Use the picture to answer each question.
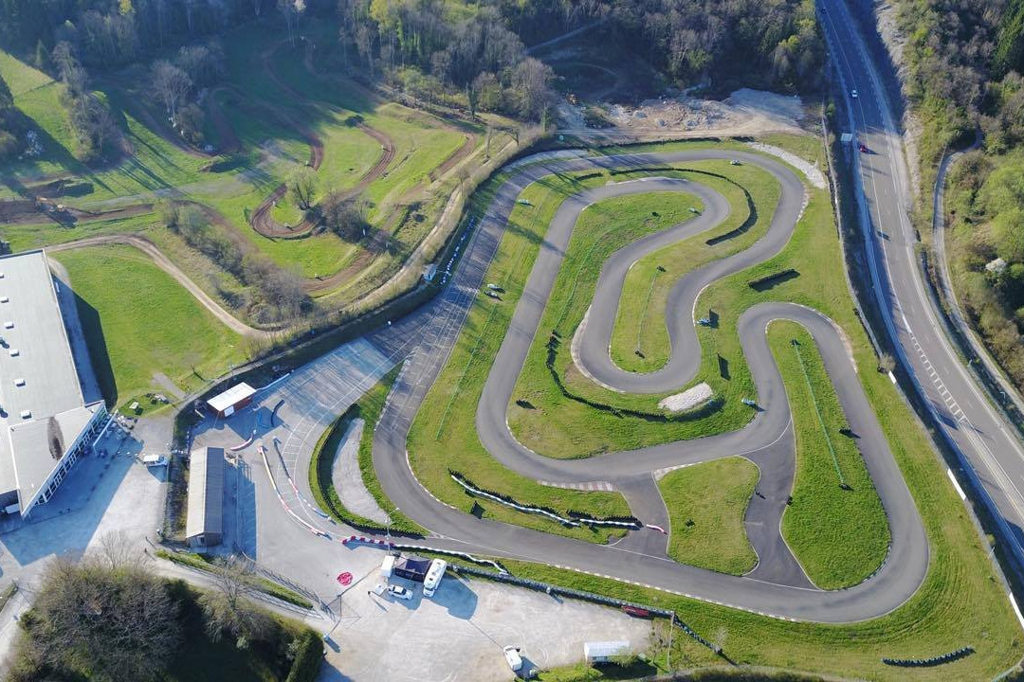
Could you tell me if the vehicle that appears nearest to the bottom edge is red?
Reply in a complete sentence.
No, from above the vehicle that appears nearest to the bottom edge looks white.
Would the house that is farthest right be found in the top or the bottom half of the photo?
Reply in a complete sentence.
The house that is farthest right sits in the bottom half of the picture.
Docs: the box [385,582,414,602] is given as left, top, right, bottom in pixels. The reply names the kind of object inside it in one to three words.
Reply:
car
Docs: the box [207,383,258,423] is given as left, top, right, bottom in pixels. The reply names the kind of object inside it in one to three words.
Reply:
shed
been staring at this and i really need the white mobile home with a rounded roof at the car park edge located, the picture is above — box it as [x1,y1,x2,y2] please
[578,642,633,664]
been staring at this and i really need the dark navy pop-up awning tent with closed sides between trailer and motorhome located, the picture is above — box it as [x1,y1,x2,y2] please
[396,556,430,583]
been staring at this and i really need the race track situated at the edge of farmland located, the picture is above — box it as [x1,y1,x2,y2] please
[373,149,930,623]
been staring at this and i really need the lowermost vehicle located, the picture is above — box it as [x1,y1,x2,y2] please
[499,646,524,677]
